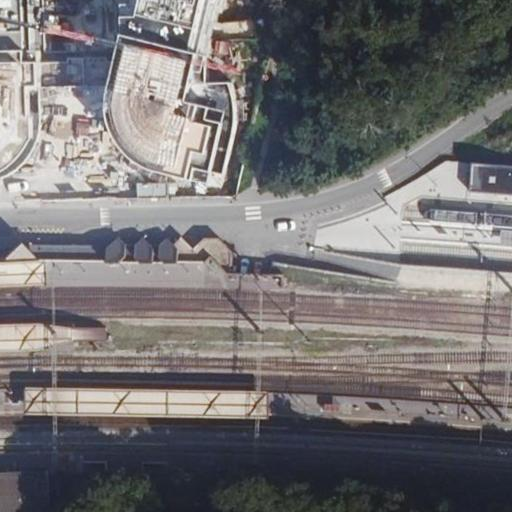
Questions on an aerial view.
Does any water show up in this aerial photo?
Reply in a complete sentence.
No, no water is visible.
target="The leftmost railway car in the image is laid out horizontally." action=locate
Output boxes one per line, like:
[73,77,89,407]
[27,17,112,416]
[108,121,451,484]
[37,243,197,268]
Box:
[420,208,477,222]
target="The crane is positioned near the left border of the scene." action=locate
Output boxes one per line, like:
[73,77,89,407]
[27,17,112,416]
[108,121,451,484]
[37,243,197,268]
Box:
[0,5,110,39]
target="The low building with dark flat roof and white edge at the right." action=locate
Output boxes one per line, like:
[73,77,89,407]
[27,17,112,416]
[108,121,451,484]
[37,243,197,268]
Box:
[458,160,512,192]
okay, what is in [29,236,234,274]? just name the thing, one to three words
building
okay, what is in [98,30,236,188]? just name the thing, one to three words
building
